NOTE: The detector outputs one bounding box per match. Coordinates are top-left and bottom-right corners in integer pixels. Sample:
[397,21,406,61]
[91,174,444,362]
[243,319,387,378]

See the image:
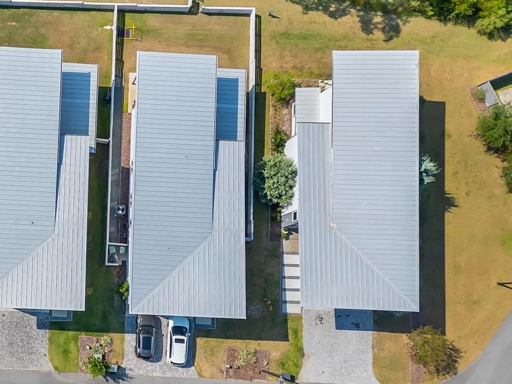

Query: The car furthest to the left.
[132,316,157,362]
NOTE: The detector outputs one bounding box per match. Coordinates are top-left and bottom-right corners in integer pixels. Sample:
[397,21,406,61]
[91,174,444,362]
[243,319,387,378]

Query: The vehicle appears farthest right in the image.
[164,317,190,366]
